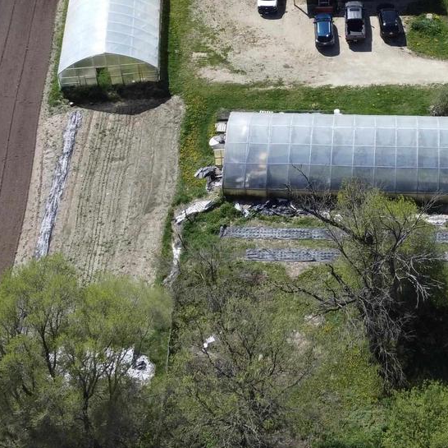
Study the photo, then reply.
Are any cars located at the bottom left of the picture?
No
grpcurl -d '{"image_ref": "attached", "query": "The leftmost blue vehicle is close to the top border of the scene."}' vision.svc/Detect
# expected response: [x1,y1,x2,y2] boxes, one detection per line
[314,8,338,37]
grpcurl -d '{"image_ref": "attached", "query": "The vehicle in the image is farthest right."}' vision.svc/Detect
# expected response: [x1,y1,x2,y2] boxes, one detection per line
[375,3,399,33]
